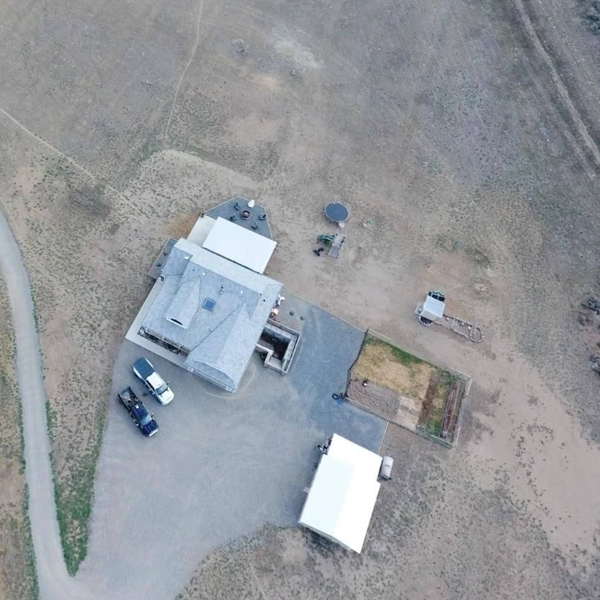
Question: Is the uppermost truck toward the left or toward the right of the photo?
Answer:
left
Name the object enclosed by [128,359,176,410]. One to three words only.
truck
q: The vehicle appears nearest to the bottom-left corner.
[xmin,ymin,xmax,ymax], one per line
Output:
[113,389,159,442]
